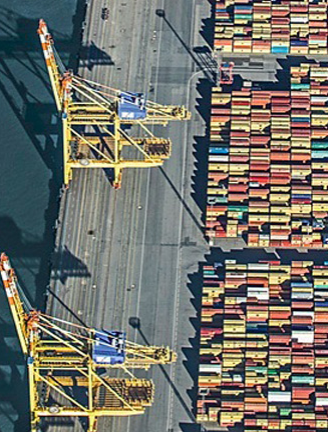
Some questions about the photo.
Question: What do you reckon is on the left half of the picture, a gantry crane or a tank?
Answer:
gantry crane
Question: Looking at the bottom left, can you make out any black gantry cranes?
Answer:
No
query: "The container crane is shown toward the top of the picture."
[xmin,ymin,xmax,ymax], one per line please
[37,16,192,190]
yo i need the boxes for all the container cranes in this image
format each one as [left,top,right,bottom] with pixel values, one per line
[0,247,179,432]
[37,16,192,190]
